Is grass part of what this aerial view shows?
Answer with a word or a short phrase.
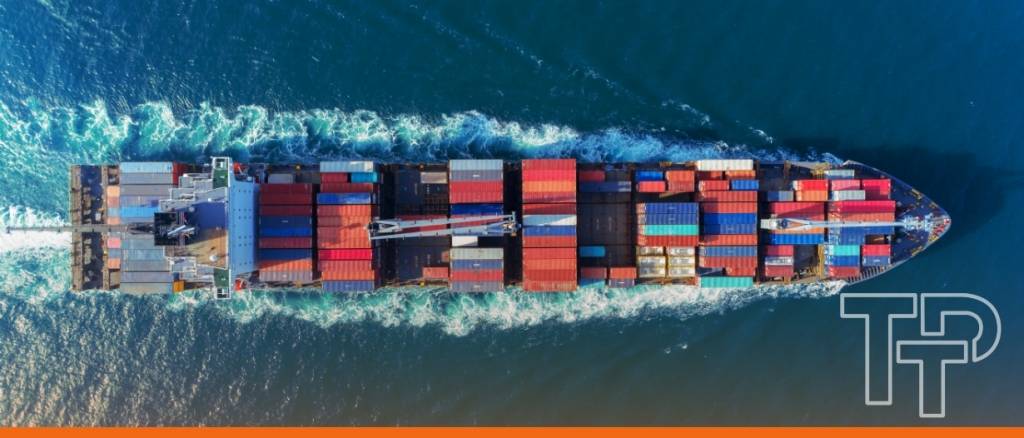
No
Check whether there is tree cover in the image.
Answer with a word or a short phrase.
No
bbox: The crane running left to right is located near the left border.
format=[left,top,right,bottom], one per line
[7,223,156,236]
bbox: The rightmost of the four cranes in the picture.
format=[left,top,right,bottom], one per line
[757,215,900,235]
